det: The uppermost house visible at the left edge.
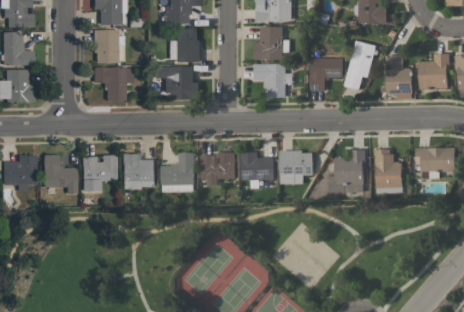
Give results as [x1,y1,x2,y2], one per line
[0,0,36,28]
